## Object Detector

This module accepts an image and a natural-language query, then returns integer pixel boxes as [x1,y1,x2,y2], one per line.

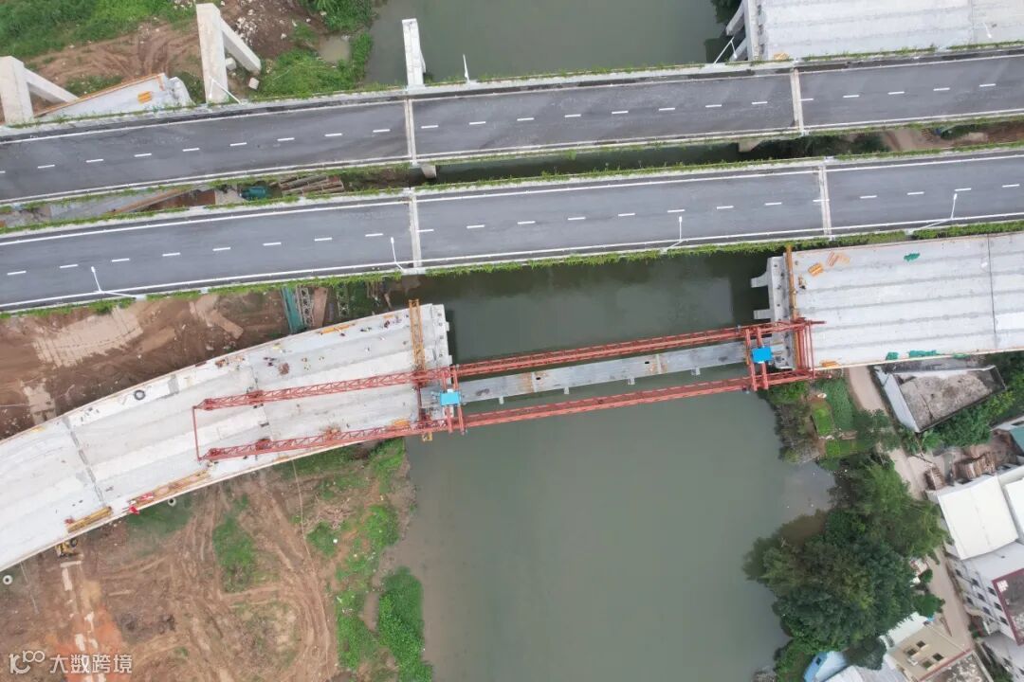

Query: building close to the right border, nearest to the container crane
[875,364,1008,432]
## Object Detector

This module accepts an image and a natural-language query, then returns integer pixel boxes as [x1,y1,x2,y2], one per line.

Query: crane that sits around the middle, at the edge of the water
[192,315,831,463]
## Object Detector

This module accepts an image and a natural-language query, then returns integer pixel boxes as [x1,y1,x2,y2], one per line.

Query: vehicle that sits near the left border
[41,536,76,565]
